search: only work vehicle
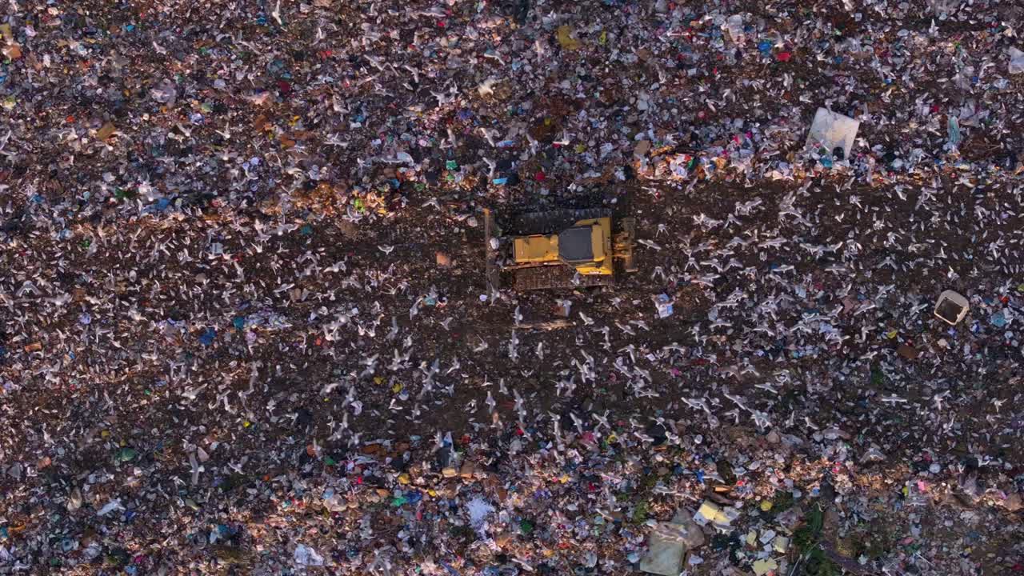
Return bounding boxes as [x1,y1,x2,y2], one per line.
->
[472,205,643,303]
